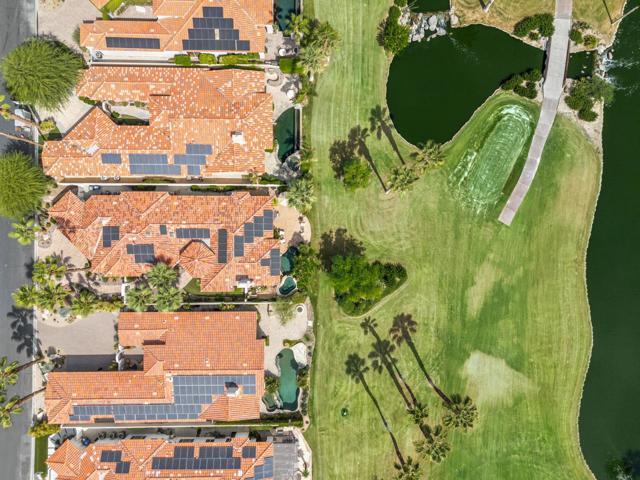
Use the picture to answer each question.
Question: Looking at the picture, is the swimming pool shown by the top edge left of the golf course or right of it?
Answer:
left of it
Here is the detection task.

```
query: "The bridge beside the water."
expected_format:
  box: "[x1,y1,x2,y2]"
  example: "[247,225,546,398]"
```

[544,18,574,100]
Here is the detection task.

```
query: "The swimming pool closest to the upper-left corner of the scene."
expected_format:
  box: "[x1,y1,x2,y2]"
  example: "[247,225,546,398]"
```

[274,0,298,32]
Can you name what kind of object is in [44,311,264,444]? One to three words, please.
house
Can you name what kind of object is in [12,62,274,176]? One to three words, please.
house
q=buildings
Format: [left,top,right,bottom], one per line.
[44,311,264,444]
[42,433,274,480]
[25,189,281,338]
[75,0,275,56]
[12,62,274,176]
